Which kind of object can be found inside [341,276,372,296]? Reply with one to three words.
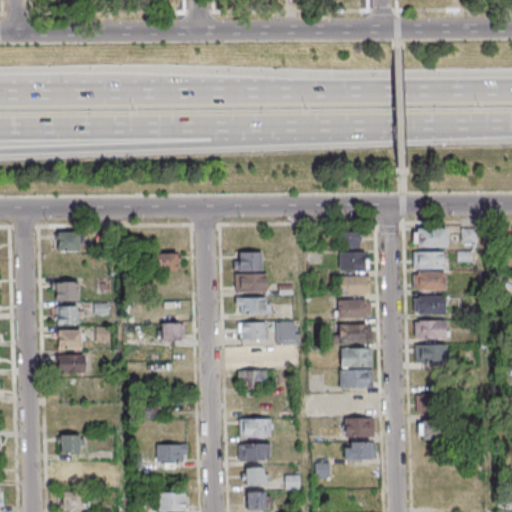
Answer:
house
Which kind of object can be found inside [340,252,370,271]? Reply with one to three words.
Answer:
house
